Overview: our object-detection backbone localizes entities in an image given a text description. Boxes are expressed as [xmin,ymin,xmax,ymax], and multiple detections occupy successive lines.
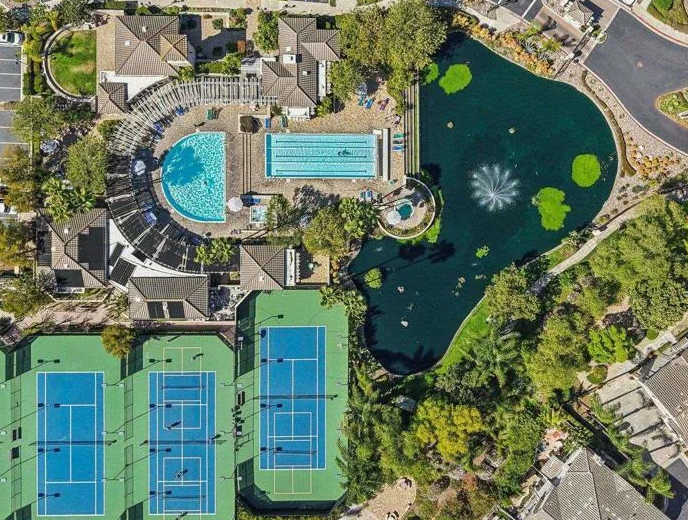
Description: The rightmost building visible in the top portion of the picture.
[567,1,593,26]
